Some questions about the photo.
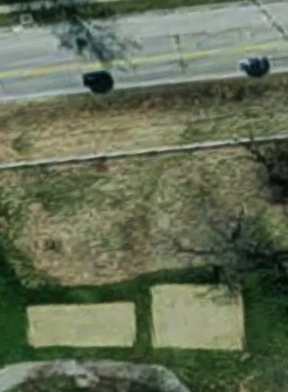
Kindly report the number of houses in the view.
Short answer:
0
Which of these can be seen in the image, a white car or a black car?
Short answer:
black car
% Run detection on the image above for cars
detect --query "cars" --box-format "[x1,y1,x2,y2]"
[240,57,271,73]
[81,70,113,87]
